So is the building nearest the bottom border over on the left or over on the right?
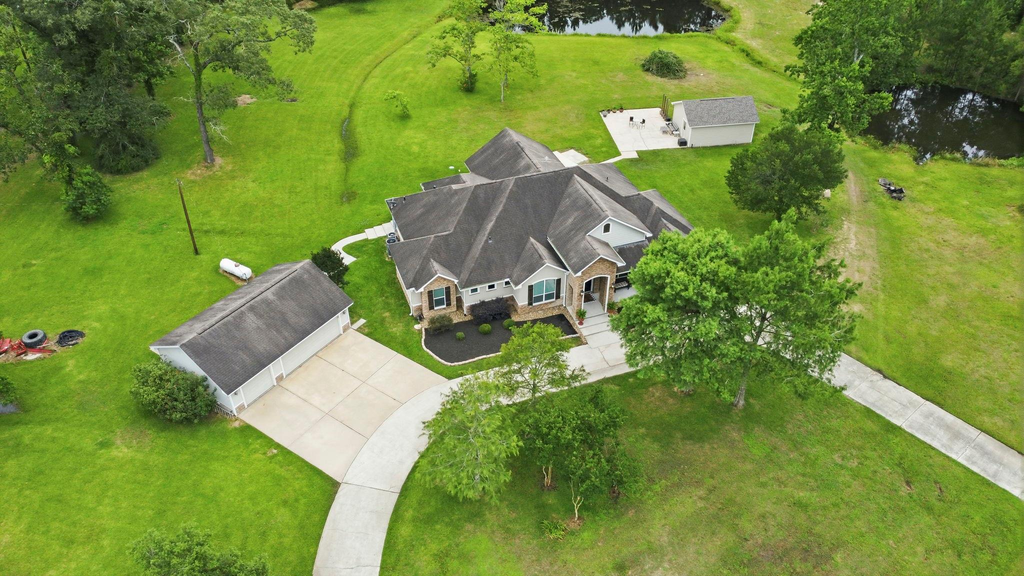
left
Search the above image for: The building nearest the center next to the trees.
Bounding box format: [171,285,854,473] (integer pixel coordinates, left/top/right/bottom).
[378,127,691,344]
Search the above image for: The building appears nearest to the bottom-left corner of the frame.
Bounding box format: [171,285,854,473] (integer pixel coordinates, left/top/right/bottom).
[149,259,355,417]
